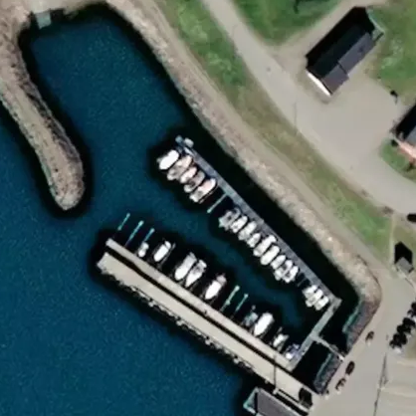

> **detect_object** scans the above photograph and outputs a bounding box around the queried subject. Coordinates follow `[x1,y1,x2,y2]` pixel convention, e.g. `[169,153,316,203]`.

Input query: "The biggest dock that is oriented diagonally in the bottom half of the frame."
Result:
[97,253,319,411]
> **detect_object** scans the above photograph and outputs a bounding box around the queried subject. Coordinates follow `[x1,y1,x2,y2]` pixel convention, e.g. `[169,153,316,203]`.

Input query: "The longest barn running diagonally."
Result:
[305,20,378,96]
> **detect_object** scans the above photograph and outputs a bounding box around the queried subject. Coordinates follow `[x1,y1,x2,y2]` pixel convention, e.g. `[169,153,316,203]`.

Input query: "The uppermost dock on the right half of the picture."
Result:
[176,136,340,302]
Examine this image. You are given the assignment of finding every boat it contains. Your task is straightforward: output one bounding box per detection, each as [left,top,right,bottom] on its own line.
[156,240,171,261]
[157,151,177,172]
[217,207,239,230]
[260,246,278,265]
[282,267,299,284]
[246,312,258,325]
[246,233,261,248]
[190,179,214,203]
[312,297,327,311]
[139,241,150,255]
[276,330,287,345]
[183,172,204,193]
[255,311,275,337]
[207,273,226,299]
[275,261,292,278]
[165,158,190,182]
[301,285,316,299]
[230,216,247,233]
[270,256,285,272]
[178,168,196,185]
[235,223,256,242]
[253,235,275,256]
[186,259,206,287]
[305,290,323,308]
[177,252,197,280]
